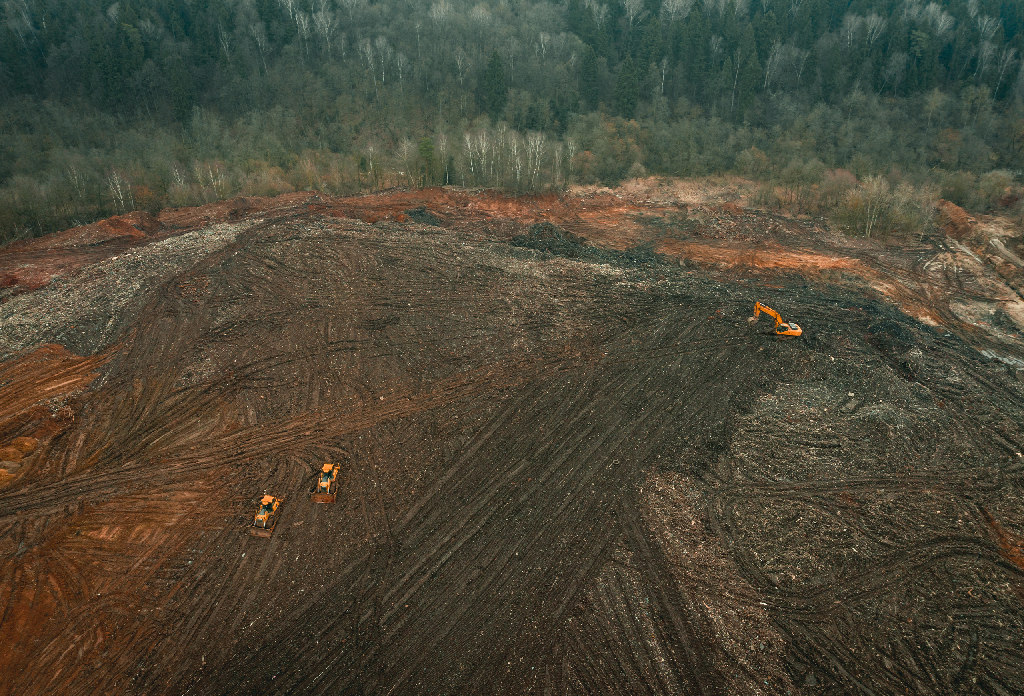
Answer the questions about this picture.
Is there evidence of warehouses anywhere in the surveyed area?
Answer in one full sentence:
No, there is no warehouse in the image.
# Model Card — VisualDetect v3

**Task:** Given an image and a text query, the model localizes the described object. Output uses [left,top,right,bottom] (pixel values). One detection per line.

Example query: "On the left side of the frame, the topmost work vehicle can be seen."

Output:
[311,466,339,505]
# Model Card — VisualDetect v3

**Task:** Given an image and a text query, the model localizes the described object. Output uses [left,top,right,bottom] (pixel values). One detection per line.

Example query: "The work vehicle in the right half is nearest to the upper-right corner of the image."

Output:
[749,303,803,345]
